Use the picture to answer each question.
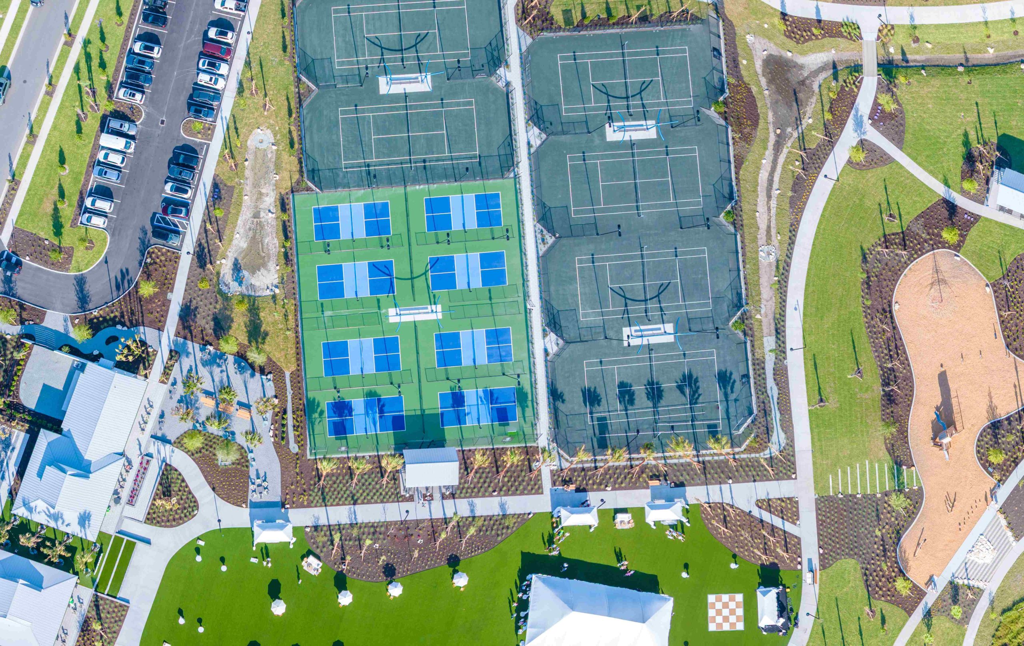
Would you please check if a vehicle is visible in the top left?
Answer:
Yes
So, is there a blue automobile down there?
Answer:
Yes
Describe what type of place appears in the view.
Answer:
sports ground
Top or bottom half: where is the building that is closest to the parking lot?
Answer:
bottom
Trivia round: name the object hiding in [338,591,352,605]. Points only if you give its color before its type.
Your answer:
white umbrella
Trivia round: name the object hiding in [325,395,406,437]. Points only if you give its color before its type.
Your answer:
blue sports court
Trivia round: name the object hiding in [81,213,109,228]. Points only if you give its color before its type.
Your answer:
white car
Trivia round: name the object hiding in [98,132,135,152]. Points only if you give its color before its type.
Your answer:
white vehicle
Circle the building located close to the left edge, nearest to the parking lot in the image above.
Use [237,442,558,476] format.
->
[12,359,151,542]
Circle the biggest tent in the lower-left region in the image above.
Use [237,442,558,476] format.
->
[253,519,296,543]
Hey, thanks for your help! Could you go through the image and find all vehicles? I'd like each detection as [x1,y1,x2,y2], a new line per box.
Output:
[134,42,162,58]
[99,150,126,165]
[0,256,23,270]
[151,228,184,246]
[165,183,192,197]
[119,88,146,104]
[94,167,121,183]
[166,165,199,182]
[141,0,168,12]
[188,105,216,121]
[0,77,12,104]
[198,73,225,89]
[208,27,235,44]
[215,0,247,16]
[81,213,109,228]
[194,89,221,106]
[126,71,153,86]
[203,43,232,60]
[109,119,137,135]
[200,59,228,75]
[172,151,200,166]
[98,132,135,152]
[86,196,115,213]
[142,11,169,27]
[162,204,189,219]
[127,56,154,72]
